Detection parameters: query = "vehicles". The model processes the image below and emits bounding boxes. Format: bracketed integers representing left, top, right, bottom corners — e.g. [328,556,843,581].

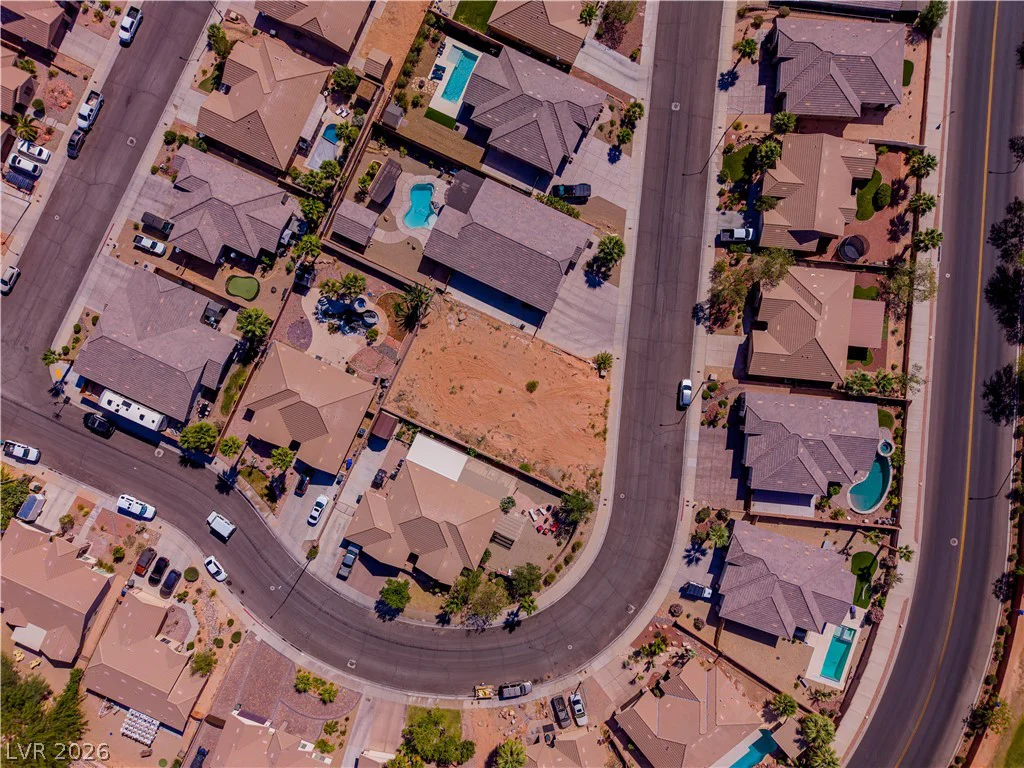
[132,234,166,254]
[551,182,590,198]
[335,543,360,580]
[293,471,311,498]
[0,438,43,463]
[114,493,158,520]
[119,5,143,46]
[499,679,533,698]
[133,547,157,575]
[158,568,184,599]
[677,379,690,408]
[189,746,209,768]
[569,693,589,727]
[0,264,24,294]
[16,140,52,163]
[66,129,89,160]
[204,555,228,582]
[306,494,330,527]
[550,694,571,729]
[683,582,713,599]
[8,153,44,178]
[78,89,105,131]
[207,512,239,543]
[138,210,173,234]
[369,467,389,492]
[149,557,171,585]
[718,227,754,242]
[83,413,117,438]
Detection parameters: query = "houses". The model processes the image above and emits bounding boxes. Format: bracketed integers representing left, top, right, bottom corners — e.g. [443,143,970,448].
[718,520,857,640]
[86,591,210,734]
[355,749,397,768]
[742,393,880,496]
[0,54,39,117]
[774,18,907,120]
[255,0,375,54]
[344,459,500,585]
[746,266,856,384]
[526,727,603,768]
[0,518,113,647]
[757,134,877,249]
[244,340,376,474]
[0,0,71,52]
[196,38,330,171]
[167,144,293,263]
[615,658,764,768]
[423,178,594,312]
[0,120,18,150]
[463,46,607,175]
[488,0,590,68]
[209,709,317,768]
[74,266,239,421]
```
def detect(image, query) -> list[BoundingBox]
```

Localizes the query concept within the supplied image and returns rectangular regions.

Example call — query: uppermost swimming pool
[439,42,481,106]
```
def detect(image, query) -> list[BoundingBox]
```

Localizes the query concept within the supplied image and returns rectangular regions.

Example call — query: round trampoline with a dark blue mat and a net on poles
[837,232,869,259]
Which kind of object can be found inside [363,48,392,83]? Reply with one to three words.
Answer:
building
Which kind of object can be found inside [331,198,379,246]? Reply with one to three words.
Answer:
building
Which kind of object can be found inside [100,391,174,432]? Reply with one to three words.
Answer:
trailer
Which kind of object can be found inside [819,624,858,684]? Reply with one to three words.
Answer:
swimming pool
